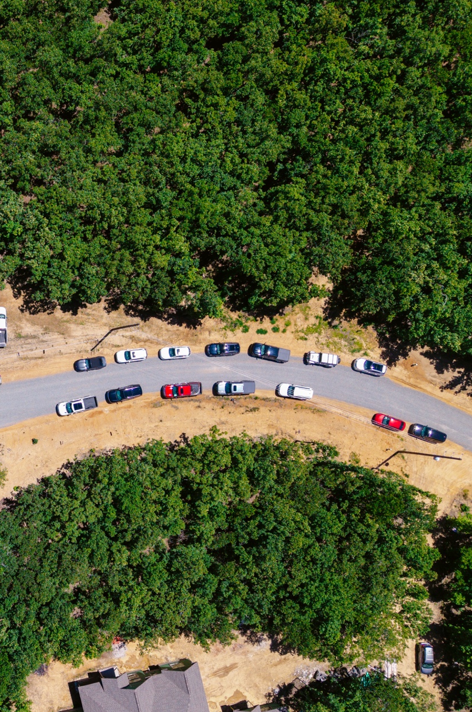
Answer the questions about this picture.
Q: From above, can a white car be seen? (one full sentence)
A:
Yes, the frame does contain a white car.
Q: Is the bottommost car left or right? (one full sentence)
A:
The bottommost car is on the right side of the image.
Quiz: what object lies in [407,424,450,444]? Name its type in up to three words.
car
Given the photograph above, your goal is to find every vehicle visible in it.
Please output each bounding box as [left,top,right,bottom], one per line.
[157,345,192,360]
[407,424,450,444]
[213,379,257,397]
[104,384,144,401]
[205,340,242,357]
[0,306,10,350]
[55,395,100,416]
[247,342,293,363]
[350,357,389,375]
[275,383,315,399]
[161,380,204,398]
[370,413,408,431]
[73,355,107,372]
[114,346,148,363]
[304,352,343,367]
[417,642,438,674]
